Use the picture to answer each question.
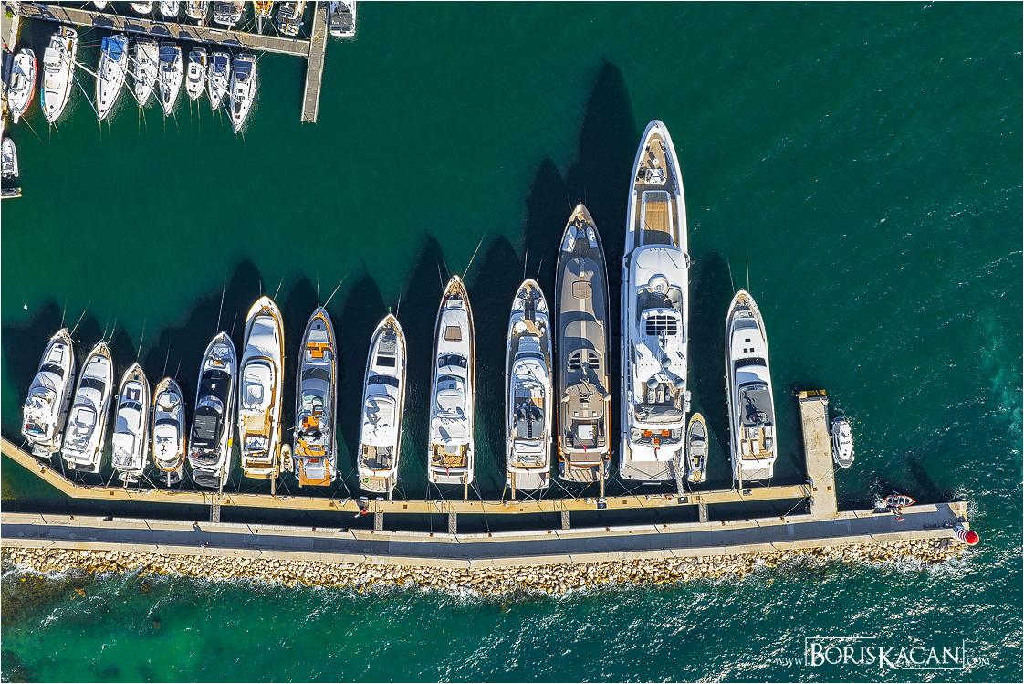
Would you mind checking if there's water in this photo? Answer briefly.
Yes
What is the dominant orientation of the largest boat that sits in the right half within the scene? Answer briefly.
from top to bottom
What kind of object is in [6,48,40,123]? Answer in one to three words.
boat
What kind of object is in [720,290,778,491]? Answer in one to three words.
boat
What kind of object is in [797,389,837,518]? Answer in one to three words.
pier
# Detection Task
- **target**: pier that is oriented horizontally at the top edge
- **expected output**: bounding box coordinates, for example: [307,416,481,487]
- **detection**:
[22,3,310,58]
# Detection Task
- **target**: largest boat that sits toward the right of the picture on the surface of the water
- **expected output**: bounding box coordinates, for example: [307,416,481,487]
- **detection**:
[616,120,694,494]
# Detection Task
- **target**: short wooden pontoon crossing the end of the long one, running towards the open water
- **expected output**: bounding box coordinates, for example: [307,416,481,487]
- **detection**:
[302,0,329,123]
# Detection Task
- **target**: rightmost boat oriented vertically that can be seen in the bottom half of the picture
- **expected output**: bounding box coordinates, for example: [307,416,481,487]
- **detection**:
[829,416,855,468]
